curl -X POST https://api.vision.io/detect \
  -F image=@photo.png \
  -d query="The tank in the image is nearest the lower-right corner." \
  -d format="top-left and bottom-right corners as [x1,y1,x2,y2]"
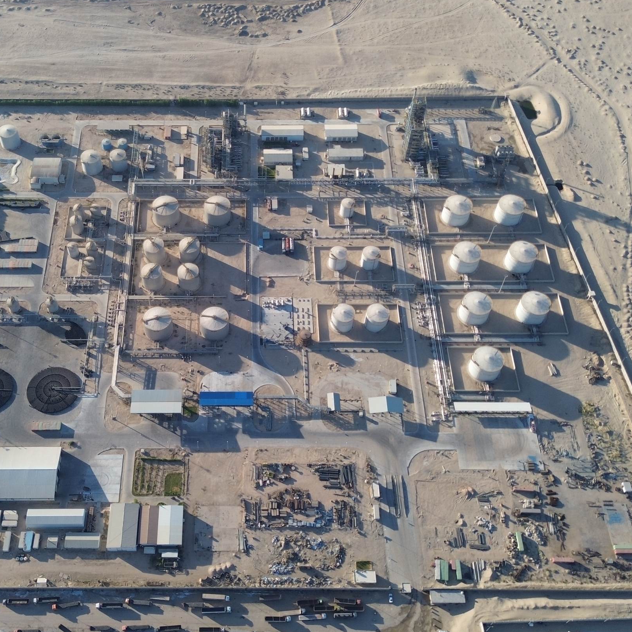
[469,346,504,388]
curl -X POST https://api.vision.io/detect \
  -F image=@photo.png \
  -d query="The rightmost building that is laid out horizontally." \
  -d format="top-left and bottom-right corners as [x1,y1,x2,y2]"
[429,589,465,607]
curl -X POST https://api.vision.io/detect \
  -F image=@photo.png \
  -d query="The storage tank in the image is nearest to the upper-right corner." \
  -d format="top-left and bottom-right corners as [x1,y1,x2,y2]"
[493,193,527,230]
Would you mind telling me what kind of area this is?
industrial area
